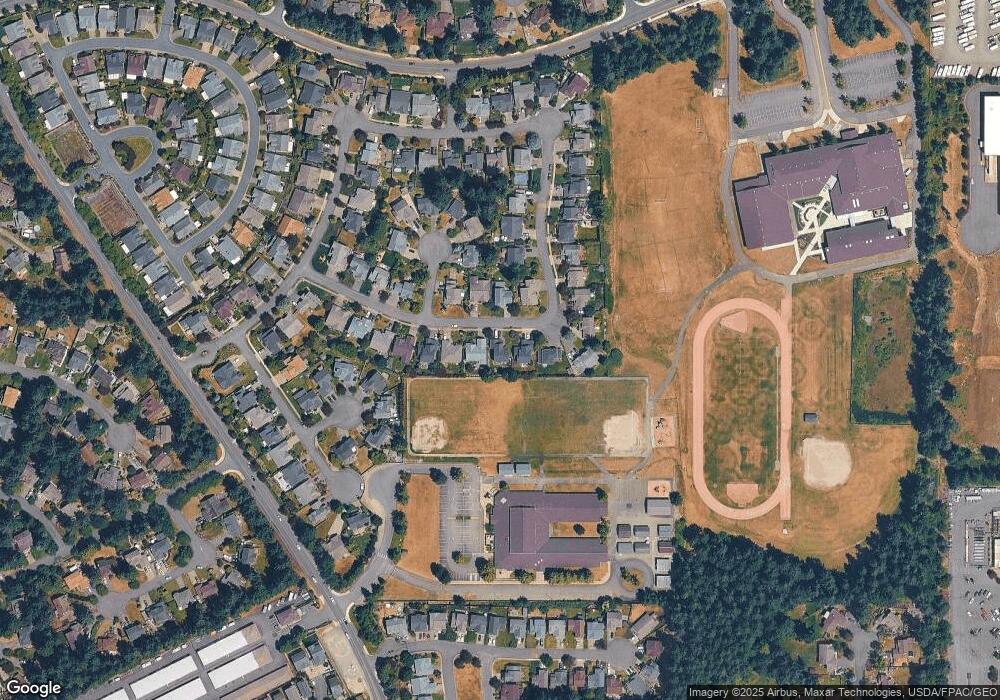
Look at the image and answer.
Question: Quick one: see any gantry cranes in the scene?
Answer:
No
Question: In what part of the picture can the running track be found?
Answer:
right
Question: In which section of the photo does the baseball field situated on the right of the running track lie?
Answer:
right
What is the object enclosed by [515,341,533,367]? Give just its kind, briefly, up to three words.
house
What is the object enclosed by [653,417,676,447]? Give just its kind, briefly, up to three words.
playground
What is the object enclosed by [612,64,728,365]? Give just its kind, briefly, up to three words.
sports field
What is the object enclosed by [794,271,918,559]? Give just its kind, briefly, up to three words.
baseball field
